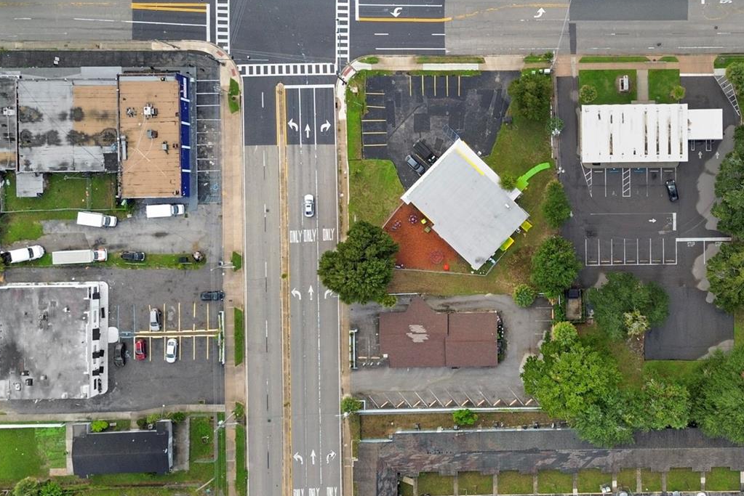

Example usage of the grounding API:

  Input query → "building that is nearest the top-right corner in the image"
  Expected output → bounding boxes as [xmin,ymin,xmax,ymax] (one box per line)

[582,104,722,166]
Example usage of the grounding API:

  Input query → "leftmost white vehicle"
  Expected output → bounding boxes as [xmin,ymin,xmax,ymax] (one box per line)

[7,246,43,263]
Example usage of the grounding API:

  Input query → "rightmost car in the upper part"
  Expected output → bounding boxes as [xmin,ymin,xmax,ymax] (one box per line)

[666,178,678,202]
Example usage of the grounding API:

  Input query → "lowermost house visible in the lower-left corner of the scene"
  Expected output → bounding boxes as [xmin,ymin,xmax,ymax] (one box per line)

[68,417,178,476]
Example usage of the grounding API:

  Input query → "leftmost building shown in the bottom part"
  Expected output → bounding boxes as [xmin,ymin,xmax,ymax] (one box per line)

[0,280,119,401]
